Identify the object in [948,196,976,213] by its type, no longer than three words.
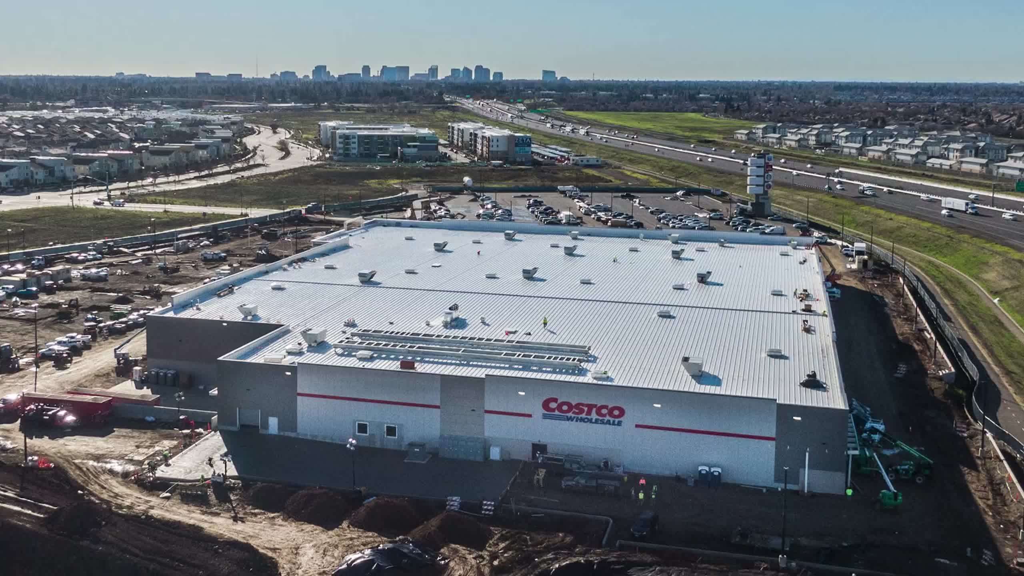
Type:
vehicle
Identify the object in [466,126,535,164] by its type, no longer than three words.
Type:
building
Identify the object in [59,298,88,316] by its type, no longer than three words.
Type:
work vehicle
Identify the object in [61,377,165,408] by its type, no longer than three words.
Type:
trailer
